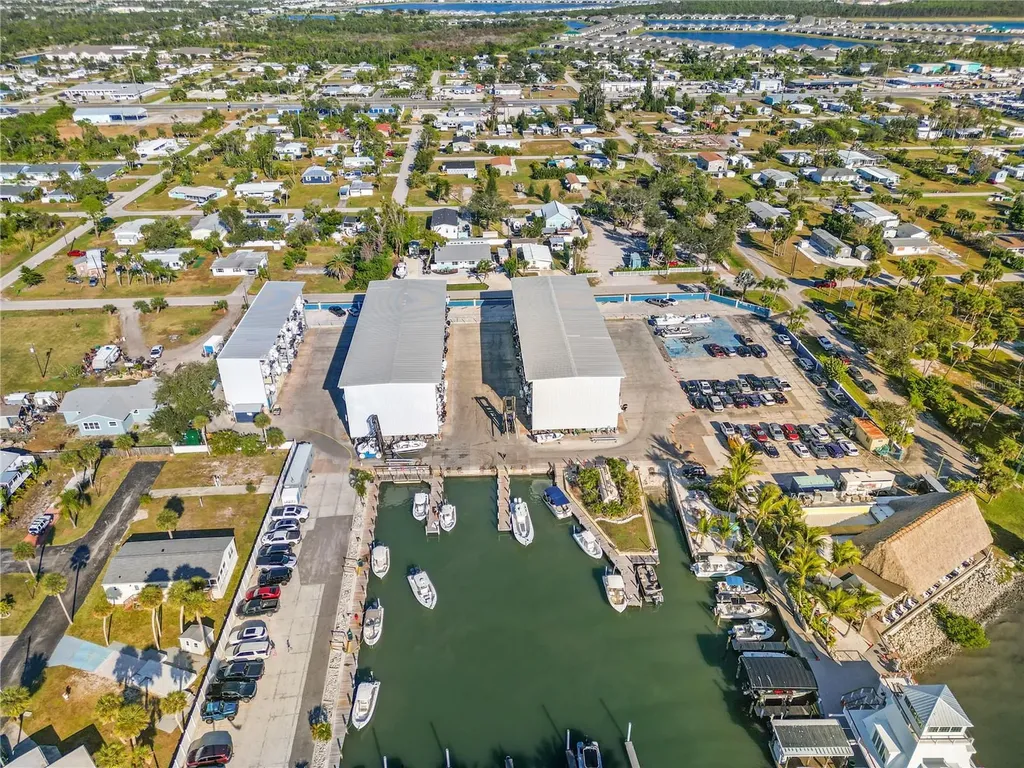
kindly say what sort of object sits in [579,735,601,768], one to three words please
boat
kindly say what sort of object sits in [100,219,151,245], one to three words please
house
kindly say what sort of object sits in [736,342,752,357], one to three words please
car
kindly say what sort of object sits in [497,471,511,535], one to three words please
pier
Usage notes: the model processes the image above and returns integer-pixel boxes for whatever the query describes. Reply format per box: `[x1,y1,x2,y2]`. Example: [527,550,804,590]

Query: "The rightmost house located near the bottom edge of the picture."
[836,682,982,768]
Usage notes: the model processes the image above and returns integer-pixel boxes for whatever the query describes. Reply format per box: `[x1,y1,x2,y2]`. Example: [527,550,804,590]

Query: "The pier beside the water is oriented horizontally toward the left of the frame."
[373,465,441,489]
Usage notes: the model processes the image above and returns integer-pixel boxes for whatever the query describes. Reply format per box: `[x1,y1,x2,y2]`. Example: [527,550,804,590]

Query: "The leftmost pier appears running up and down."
[327,478,379,768]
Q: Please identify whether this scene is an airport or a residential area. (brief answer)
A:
residential area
